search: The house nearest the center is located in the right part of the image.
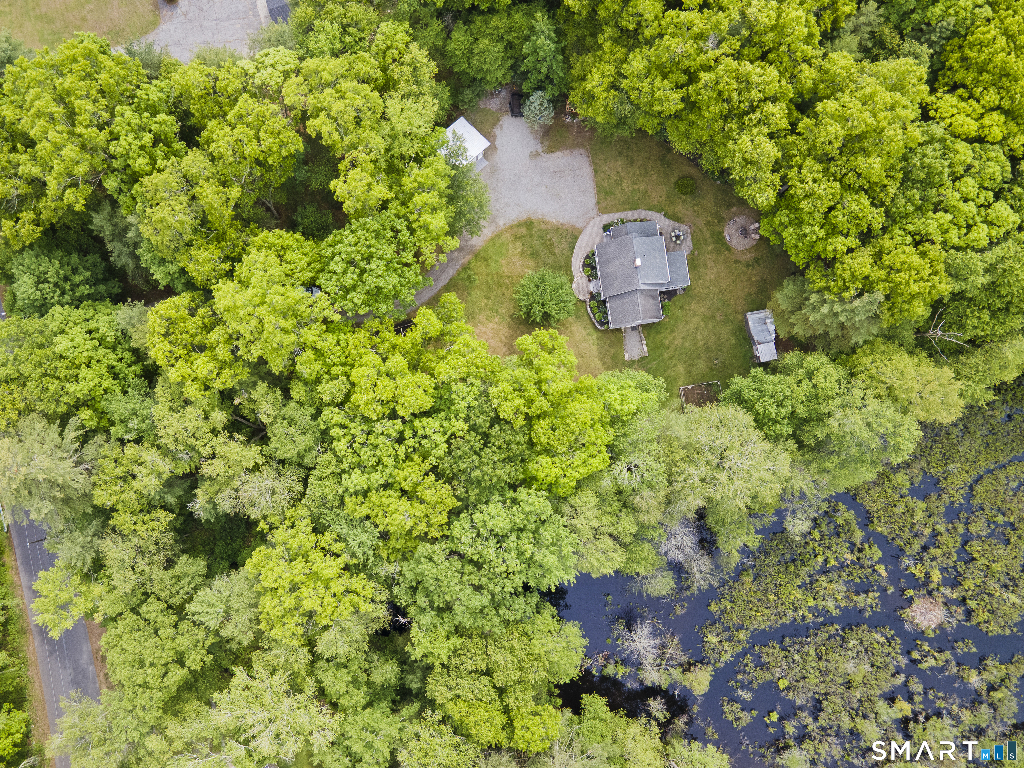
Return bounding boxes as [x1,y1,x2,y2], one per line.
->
[594,221,690,329]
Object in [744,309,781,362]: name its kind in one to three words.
shed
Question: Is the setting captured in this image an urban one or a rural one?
rural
